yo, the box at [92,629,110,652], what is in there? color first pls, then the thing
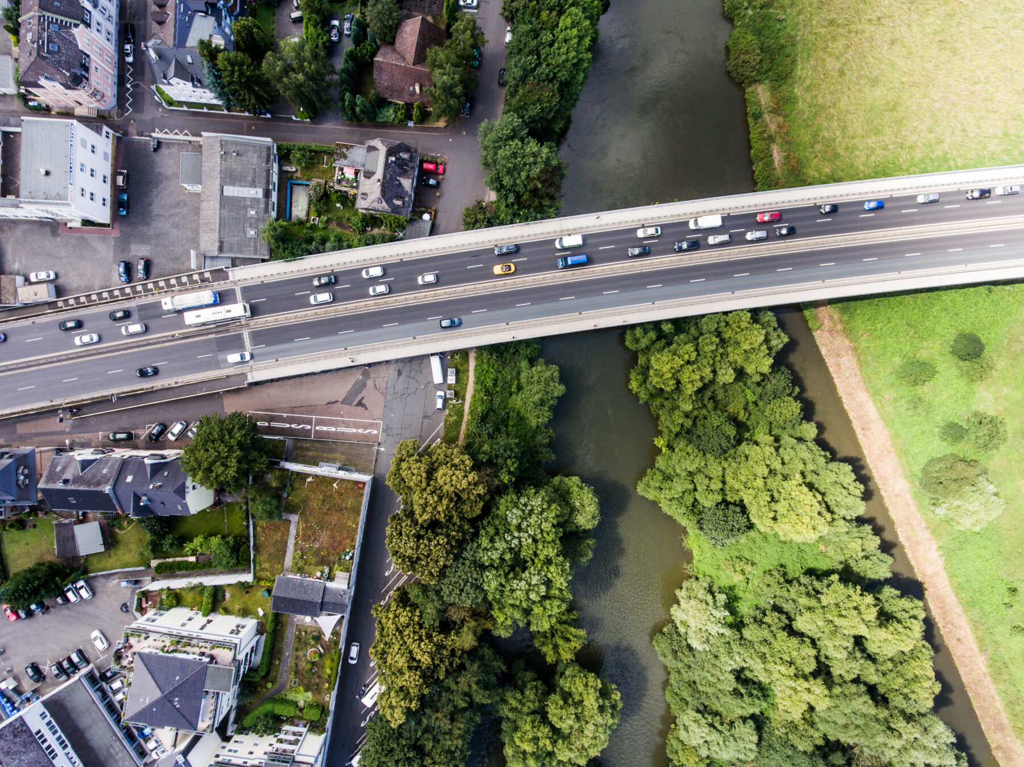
white car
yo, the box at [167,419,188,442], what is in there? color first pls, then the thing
white car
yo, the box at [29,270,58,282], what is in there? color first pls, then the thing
white vehicle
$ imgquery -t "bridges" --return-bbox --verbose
[228,162,1024,383]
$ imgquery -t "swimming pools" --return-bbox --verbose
[286,179,310,222]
